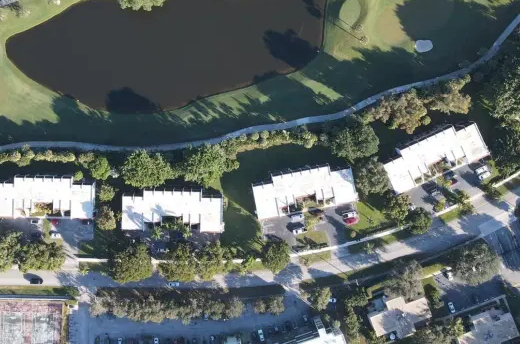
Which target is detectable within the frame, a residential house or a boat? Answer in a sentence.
Visible in the photo is a residential house.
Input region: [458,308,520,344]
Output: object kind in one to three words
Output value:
house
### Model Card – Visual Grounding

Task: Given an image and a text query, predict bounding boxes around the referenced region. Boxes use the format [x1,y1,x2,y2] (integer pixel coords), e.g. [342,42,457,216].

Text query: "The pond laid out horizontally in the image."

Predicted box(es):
[5,0,327,113]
